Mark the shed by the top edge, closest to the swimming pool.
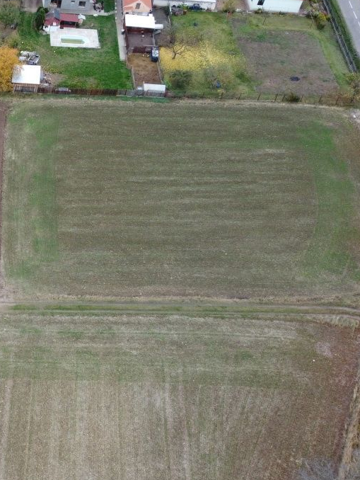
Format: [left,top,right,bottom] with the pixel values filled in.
[44,12,80,34]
